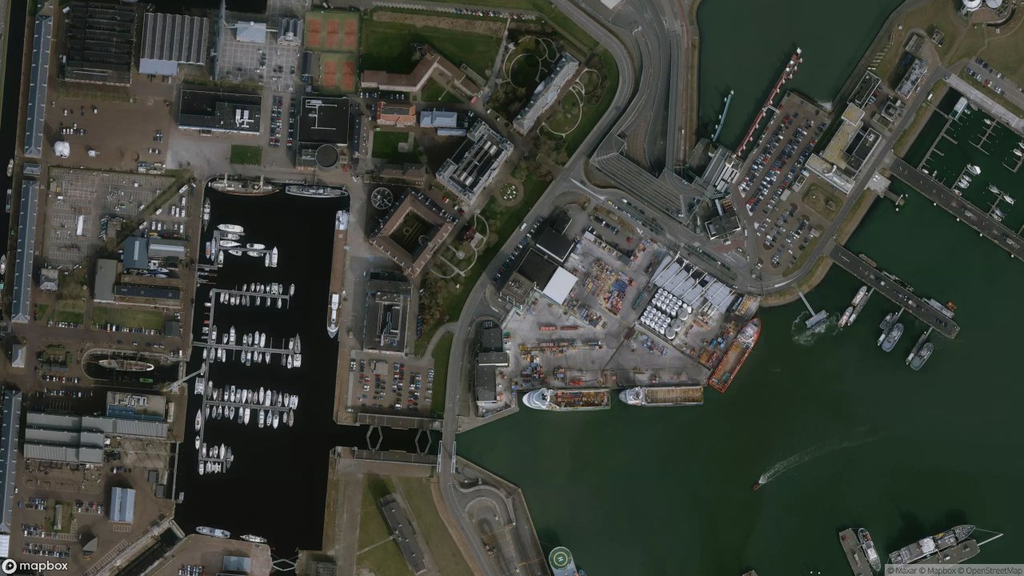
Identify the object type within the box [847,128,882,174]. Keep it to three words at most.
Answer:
building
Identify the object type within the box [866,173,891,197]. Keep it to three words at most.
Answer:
pier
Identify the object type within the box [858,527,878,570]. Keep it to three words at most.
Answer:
ship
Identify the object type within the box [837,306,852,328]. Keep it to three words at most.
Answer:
boat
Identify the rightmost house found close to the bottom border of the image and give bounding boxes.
[382,494,426,574]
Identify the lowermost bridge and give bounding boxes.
[436,431,456,477]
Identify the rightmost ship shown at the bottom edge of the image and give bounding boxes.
[888,525,975,569]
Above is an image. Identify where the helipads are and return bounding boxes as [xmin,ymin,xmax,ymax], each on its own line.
[548,548,572,571]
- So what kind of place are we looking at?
port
